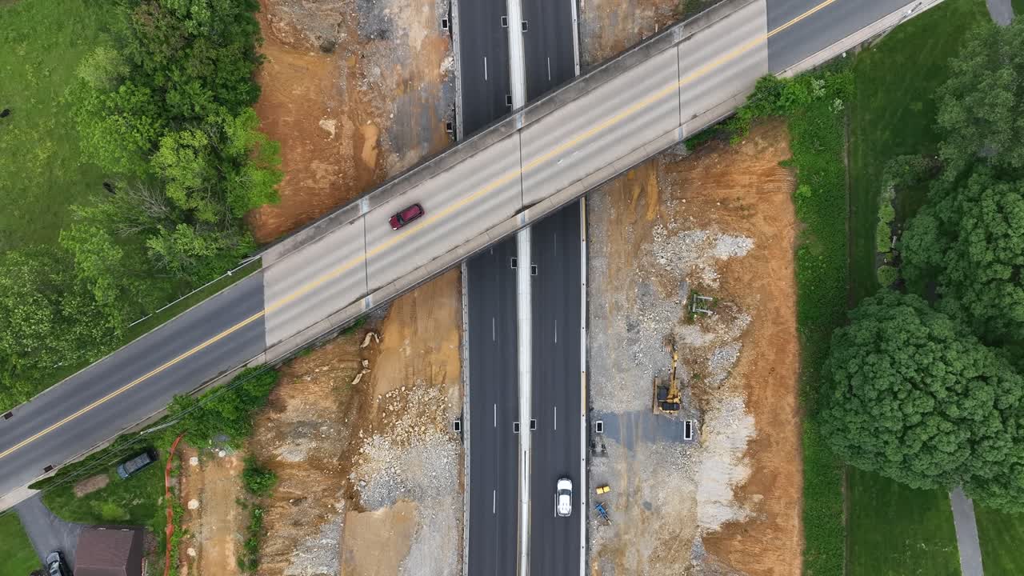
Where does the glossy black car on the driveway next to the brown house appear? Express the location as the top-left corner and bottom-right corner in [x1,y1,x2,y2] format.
[46,549,71,576]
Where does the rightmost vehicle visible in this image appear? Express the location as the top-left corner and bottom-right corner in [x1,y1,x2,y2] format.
[655,343,682,412]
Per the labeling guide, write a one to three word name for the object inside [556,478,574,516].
car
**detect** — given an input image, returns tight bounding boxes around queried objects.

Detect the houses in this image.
[66,527,144,576]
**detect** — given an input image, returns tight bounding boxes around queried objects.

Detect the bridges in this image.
[261,0,766,366]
